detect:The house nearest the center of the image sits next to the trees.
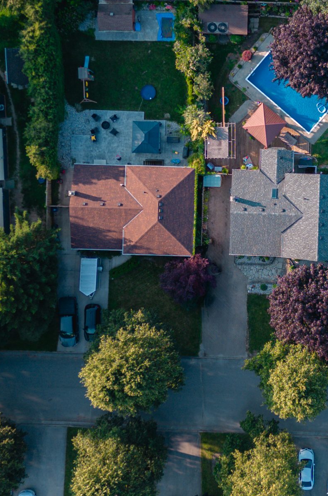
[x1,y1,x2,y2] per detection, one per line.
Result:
[65,164,195,257]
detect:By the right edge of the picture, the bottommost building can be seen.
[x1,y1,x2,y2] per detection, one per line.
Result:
[229,146,328,263]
